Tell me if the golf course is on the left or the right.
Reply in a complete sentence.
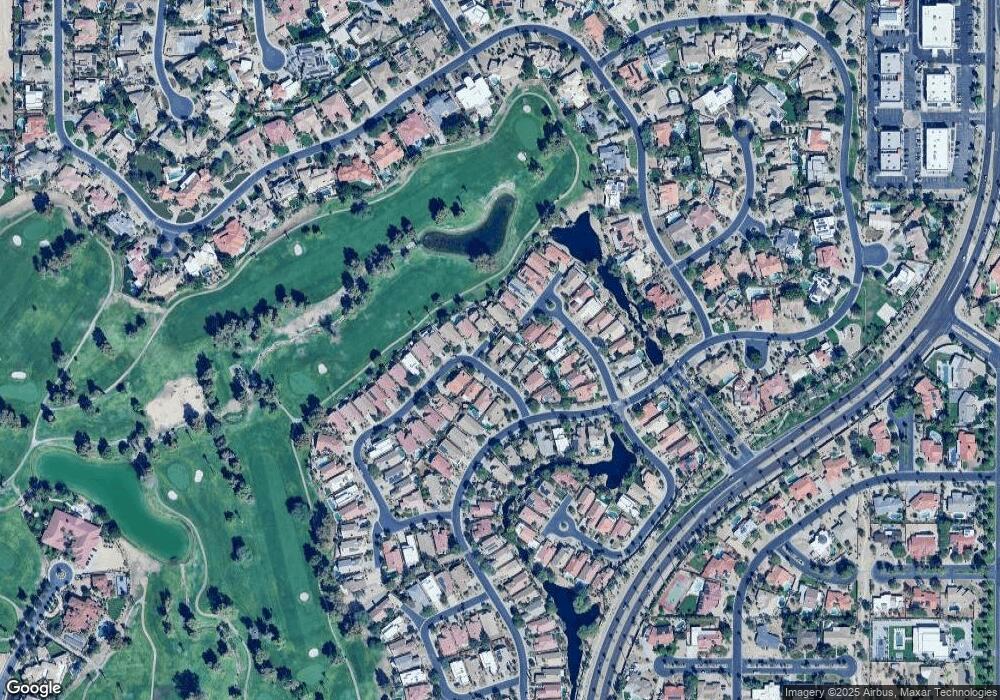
The golf course sits on the left side.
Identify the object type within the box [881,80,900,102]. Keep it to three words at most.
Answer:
building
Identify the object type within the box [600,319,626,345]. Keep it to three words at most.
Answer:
house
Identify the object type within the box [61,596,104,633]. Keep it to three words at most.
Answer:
building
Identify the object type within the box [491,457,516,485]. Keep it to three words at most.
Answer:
house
